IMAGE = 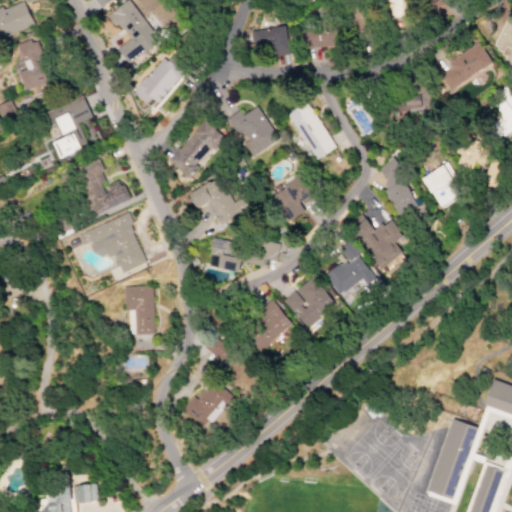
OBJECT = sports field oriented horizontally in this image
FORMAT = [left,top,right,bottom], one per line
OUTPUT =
[247,482,390,512]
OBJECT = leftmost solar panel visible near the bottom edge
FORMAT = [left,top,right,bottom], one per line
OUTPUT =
[446,428,476,497]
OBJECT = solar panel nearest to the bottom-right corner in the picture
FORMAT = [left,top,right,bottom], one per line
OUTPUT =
[482,470,502,512]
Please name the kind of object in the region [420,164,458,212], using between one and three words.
house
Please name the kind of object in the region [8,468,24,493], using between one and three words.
swimming pool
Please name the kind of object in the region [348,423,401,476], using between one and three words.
basketball court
